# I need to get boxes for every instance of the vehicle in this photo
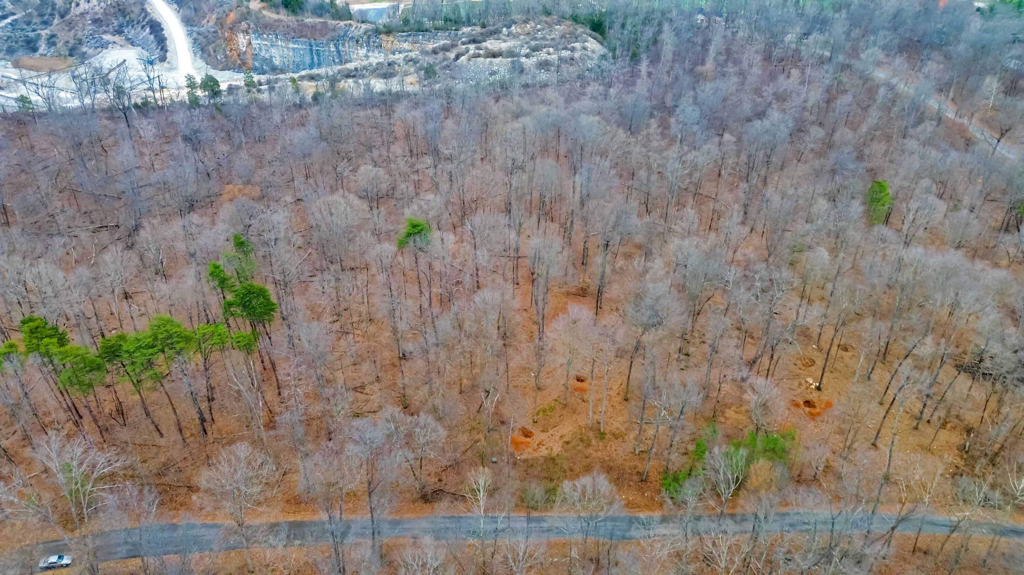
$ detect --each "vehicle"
[37,556,72,574]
